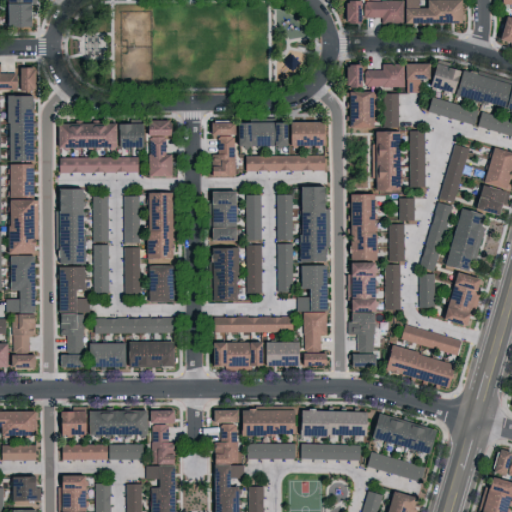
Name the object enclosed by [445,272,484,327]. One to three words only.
building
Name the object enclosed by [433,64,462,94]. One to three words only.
house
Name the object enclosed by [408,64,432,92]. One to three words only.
house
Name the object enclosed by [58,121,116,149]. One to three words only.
building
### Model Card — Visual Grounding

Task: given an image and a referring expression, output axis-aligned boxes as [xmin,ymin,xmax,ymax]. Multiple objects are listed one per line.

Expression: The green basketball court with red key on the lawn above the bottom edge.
[290,481,322,512]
